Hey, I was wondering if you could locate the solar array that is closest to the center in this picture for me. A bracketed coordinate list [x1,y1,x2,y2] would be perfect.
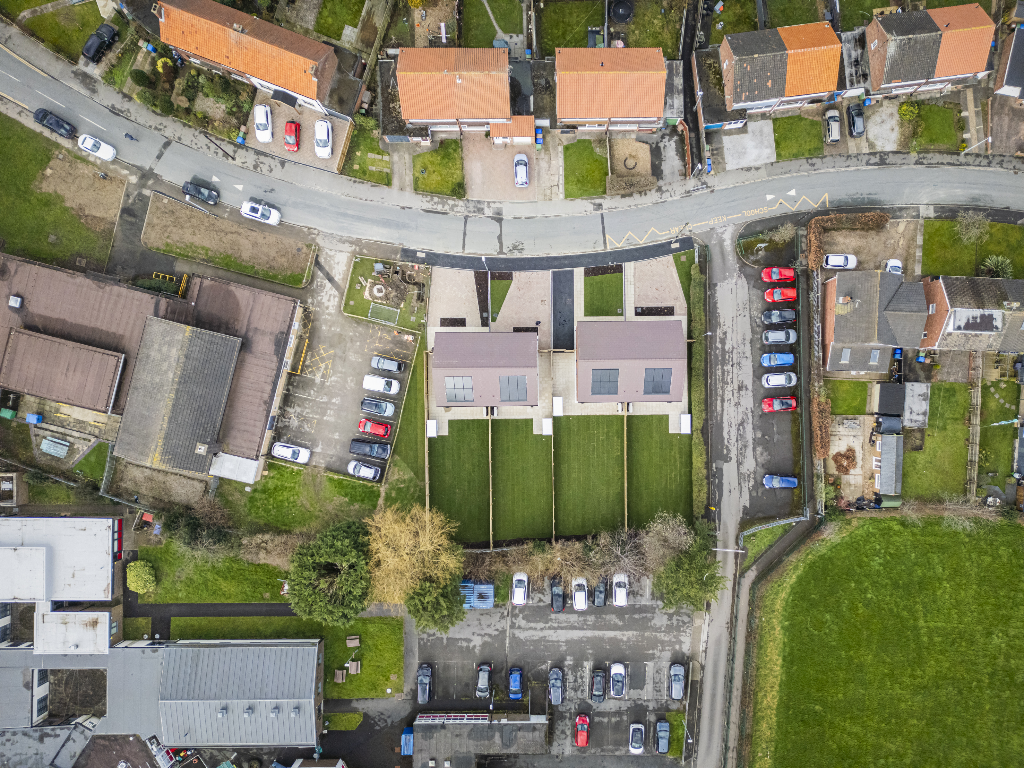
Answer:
[498,376,527,401]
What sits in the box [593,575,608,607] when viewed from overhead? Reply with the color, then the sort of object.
gray car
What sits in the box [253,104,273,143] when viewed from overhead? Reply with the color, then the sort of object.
white car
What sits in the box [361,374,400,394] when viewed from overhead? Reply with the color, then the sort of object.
white vehicle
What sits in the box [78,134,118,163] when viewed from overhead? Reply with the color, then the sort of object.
white car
